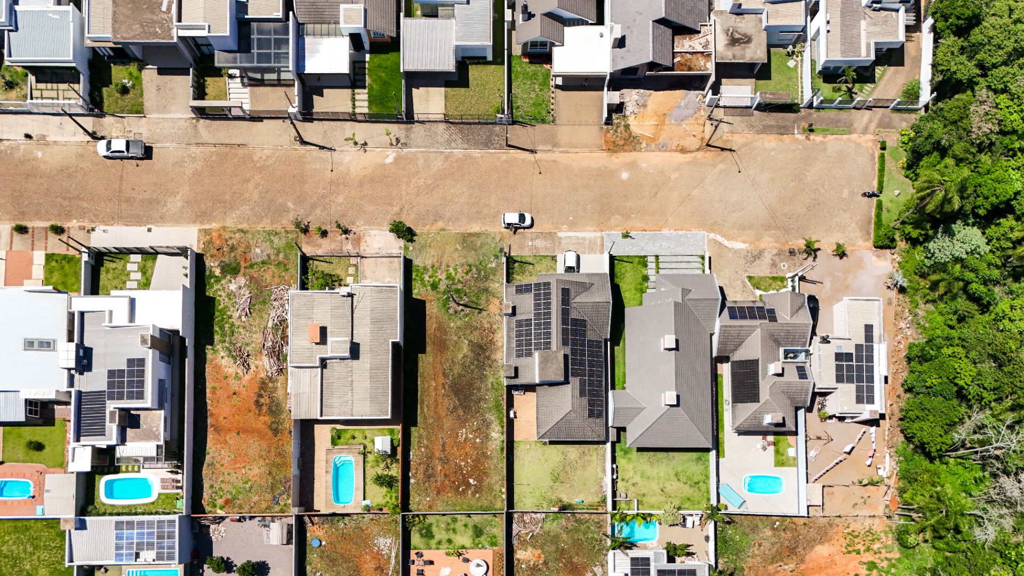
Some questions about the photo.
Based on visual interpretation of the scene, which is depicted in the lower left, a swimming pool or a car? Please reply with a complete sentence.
It is a swimming pool that can be seen in the lower left.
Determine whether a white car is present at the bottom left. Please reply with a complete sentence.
No, the scene shows no white car at the bottom left.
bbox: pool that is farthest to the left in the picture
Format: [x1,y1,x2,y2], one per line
[0,478,34,500]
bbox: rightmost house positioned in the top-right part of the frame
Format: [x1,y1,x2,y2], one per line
[807,0,915,79]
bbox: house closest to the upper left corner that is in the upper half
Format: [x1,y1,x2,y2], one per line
[0,0,91,78]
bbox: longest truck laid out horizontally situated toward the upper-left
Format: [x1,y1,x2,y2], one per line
[96,136,143,158]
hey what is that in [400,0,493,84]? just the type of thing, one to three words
house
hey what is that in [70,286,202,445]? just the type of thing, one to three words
house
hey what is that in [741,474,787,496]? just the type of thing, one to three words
swimming pool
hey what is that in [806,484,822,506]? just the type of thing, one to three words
shed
